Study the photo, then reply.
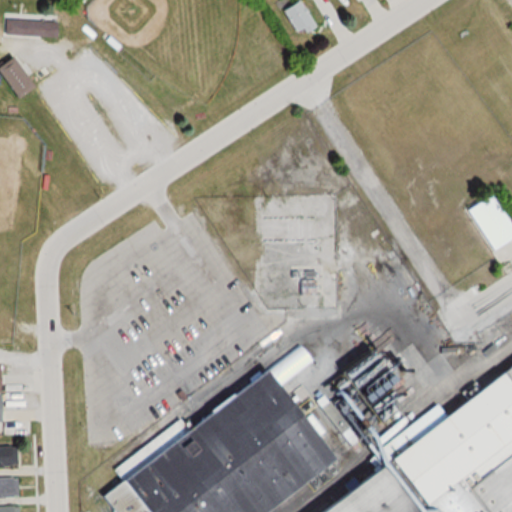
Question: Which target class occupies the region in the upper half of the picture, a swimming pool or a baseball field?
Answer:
baseball field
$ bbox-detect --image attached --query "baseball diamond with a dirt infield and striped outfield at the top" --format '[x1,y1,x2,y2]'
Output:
[86,0,240,106]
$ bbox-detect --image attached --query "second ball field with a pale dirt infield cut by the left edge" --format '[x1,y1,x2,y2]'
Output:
[0,134,26,232]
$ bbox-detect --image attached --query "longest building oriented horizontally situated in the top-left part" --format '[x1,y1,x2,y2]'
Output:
[5,18,60,38]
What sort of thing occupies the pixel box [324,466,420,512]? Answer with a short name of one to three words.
building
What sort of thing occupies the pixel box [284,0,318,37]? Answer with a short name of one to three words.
house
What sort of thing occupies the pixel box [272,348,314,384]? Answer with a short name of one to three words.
shed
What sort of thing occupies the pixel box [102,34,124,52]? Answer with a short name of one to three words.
vehicle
